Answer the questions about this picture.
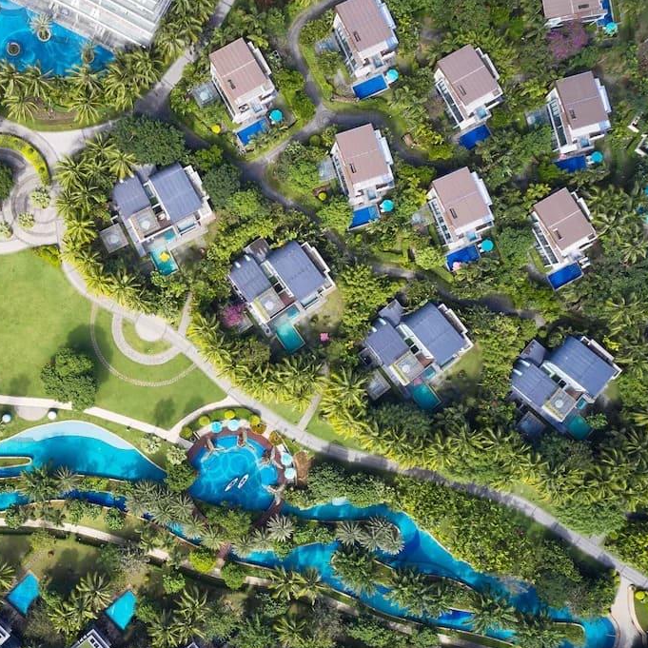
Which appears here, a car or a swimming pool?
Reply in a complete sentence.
Visible in the photo is a swimming pool.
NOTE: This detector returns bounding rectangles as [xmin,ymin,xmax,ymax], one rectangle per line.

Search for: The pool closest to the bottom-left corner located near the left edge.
[4,571,39,617]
